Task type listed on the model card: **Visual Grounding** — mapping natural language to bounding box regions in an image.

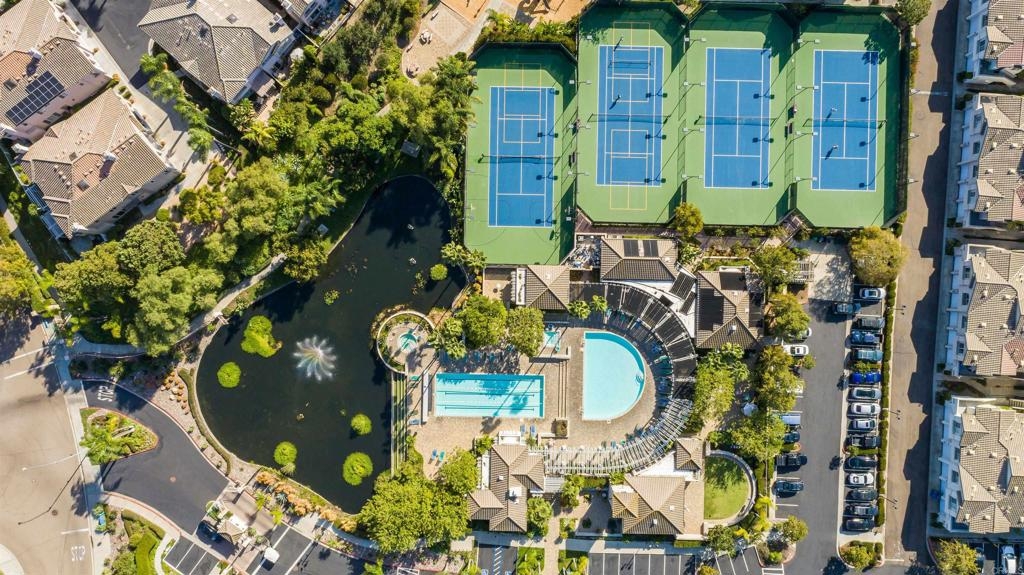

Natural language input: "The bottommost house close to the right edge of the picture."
[934,395,1024,534]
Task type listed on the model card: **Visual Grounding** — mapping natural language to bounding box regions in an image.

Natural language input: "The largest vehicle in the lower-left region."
[196,517,223,543]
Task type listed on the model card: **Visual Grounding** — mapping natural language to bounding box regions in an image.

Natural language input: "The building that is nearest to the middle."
[526,264,571,311]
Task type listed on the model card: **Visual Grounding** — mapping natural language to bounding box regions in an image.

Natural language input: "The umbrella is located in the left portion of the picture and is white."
[290,46,304,60]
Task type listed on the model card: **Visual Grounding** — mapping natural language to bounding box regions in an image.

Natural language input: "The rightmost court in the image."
[788,21,892,230]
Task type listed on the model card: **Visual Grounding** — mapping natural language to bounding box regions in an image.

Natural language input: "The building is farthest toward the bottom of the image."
[216,514,250,547]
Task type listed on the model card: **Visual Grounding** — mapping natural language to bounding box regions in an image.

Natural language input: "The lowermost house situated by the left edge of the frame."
[20,87,177,238]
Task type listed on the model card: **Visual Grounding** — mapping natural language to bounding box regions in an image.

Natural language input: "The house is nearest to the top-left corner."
[0,0,108,128]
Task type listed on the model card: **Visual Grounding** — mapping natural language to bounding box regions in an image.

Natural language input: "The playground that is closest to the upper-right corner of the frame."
[523,0,585,24]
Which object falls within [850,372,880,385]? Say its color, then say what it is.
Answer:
blue vehicle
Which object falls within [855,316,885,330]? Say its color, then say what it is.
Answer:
gray vehicle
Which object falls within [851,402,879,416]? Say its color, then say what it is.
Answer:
white car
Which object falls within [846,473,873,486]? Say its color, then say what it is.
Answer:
white vehicle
